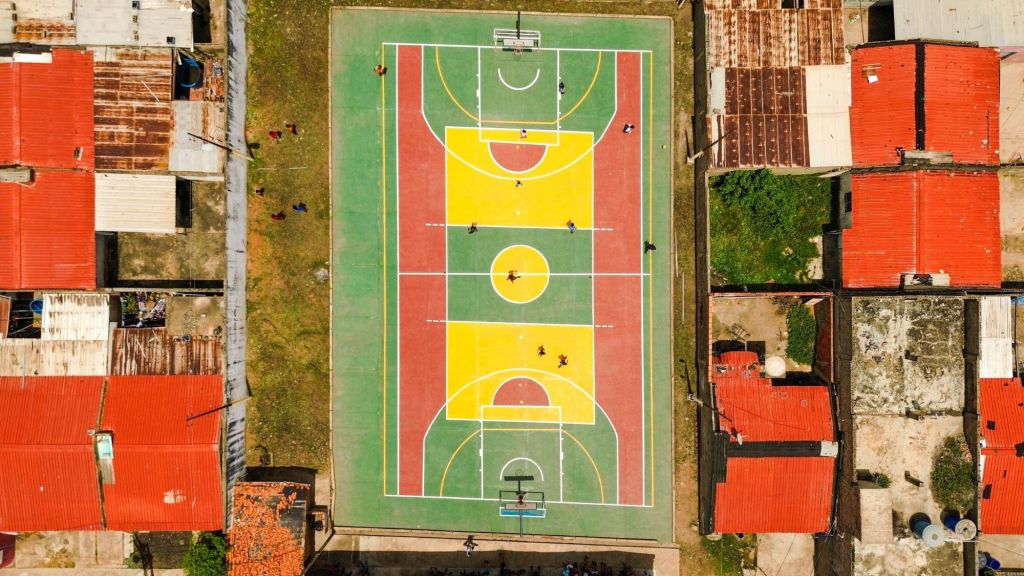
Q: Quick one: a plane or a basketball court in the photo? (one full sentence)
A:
This aerial view contains a basketball court.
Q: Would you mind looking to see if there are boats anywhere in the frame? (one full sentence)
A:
No, no boat is visible in the view.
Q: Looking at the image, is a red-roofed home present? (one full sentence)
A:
Yes, the picture does show a red-roofed home.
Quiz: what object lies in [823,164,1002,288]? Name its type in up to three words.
house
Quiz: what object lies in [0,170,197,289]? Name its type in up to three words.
house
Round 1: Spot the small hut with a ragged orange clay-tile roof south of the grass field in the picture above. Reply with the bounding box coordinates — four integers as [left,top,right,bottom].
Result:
[227,473,315,576]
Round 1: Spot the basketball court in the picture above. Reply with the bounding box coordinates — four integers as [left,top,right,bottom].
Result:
[328,7,676,548]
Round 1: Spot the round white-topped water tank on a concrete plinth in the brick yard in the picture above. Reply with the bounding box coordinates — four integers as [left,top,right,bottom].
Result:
[758,354,786,378]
